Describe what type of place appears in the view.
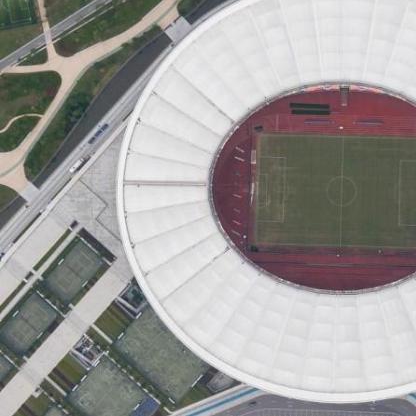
sports ground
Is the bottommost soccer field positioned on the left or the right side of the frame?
right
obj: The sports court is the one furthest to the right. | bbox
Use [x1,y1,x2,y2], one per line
[115,301,206,399]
